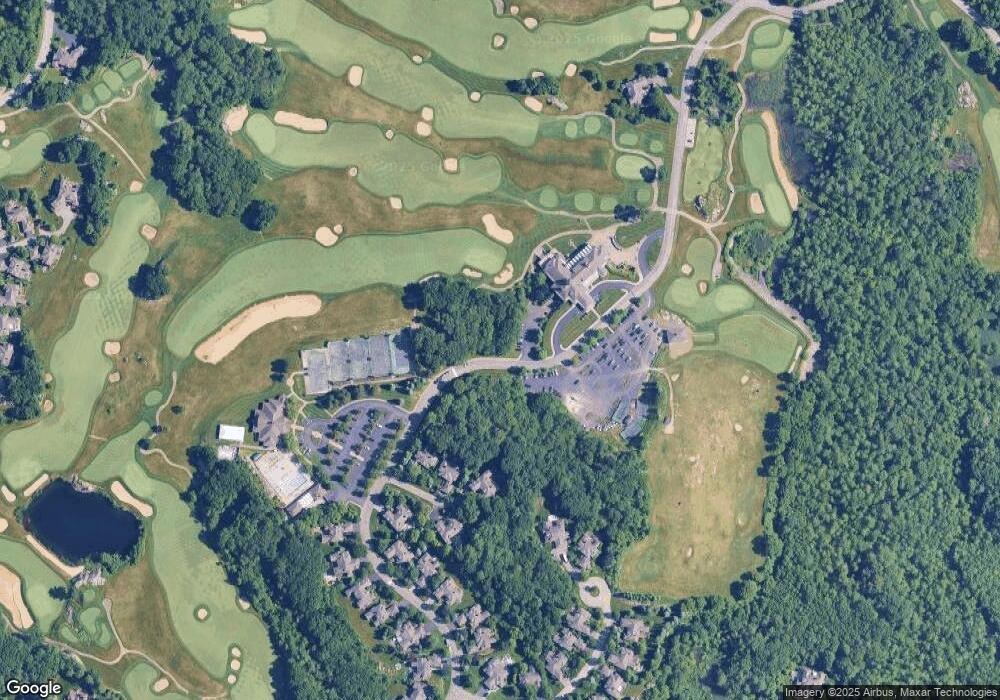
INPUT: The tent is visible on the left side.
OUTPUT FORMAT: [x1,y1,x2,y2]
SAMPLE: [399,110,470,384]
[218,425,244,441]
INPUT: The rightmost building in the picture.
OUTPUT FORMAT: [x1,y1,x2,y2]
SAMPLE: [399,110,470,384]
[798,668,827,691]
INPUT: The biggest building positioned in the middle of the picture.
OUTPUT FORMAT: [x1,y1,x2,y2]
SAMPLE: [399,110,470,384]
[532,244,606,316]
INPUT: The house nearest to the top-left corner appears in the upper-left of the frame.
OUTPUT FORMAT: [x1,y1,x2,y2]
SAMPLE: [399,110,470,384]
[49,44,83,71]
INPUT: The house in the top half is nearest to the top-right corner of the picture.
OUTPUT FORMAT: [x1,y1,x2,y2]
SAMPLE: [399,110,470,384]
[628,64,664,114]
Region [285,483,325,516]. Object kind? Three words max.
building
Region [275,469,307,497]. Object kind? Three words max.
swimming pool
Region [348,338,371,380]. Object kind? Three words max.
tennis court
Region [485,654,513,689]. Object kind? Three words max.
house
